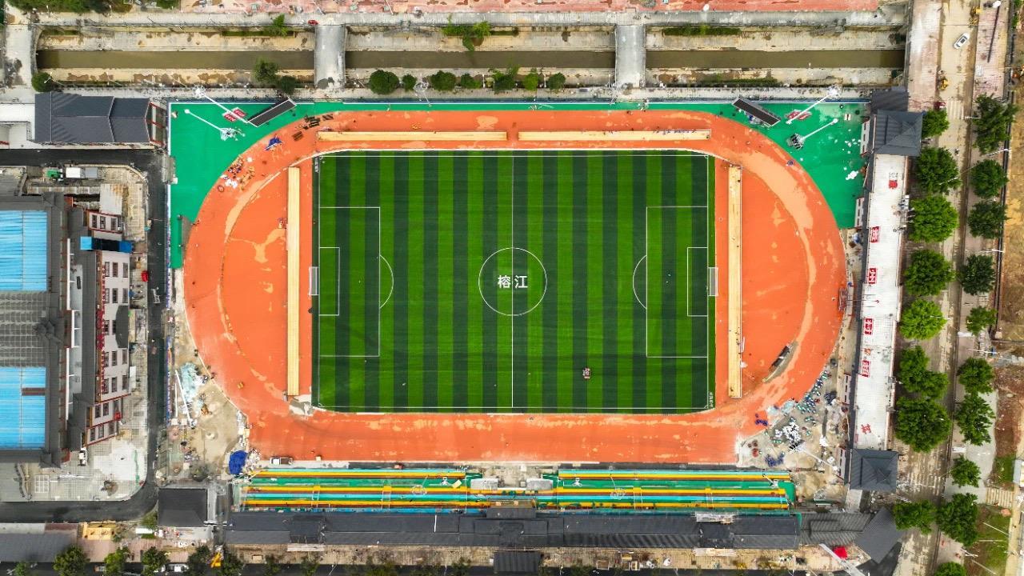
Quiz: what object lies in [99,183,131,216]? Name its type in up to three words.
shed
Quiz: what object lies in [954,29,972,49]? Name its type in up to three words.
car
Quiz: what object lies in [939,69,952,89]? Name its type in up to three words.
vehicle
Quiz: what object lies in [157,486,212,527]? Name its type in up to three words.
building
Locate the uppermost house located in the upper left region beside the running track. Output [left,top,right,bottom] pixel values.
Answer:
[35,91,174,143]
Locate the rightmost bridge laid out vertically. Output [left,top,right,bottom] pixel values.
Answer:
[613,21,647,93]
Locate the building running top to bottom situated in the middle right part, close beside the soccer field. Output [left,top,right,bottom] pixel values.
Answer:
[837,108,912,489]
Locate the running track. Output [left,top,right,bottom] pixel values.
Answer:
[182,110,848,463]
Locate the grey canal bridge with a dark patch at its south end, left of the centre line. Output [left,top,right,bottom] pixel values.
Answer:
[312,21,349,93]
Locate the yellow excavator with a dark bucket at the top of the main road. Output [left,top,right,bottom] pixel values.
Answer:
[970,2,988,26]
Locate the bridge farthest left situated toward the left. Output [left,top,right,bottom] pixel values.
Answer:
[1,21,41,93]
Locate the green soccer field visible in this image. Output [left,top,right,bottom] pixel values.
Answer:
[312,151,715,414]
